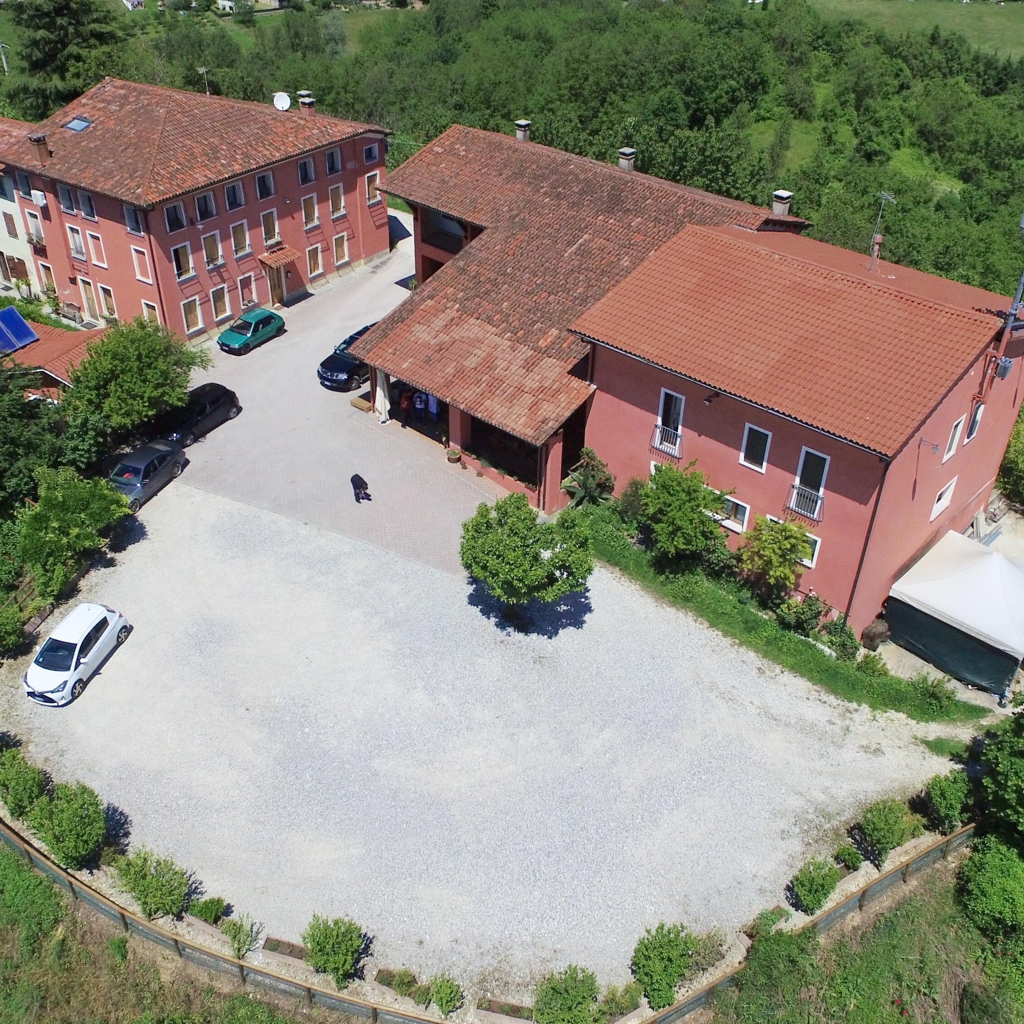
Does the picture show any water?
No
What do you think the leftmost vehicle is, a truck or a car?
car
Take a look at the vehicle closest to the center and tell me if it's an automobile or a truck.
automobile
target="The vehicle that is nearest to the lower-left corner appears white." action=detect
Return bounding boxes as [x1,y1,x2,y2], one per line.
[16,599,125,706]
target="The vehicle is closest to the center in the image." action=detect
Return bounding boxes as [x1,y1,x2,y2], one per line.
[313,316,380,387]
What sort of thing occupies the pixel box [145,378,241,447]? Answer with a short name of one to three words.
car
